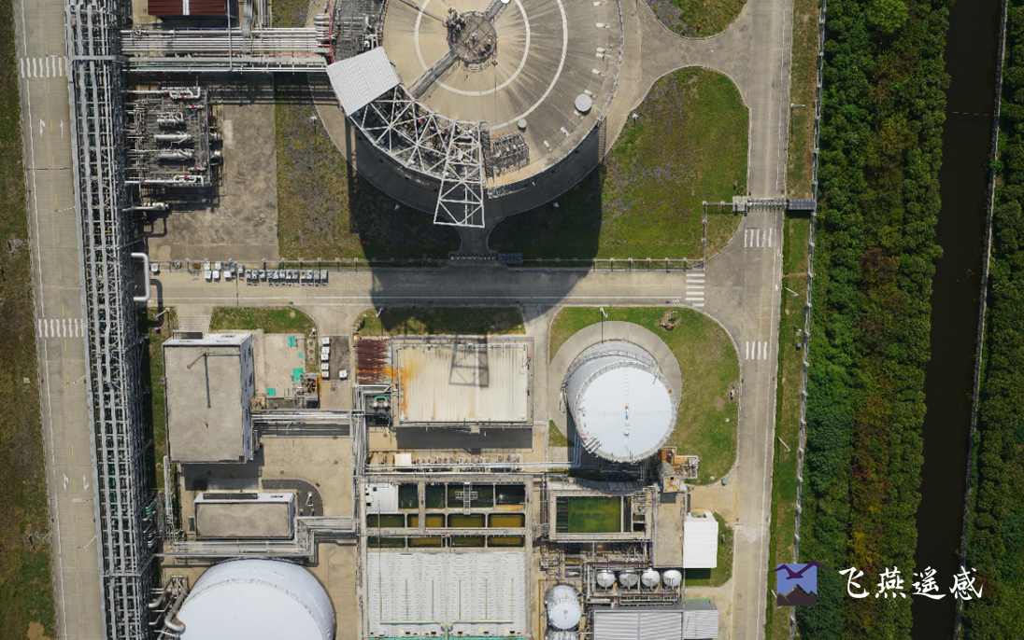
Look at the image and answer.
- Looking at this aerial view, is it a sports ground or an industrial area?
industrial area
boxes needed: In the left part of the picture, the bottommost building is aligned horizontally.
[188,493,295,538]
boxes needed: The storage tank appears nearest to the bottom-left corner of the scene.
[168,558,335,640]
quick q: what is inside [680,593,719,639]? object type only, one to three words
shed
